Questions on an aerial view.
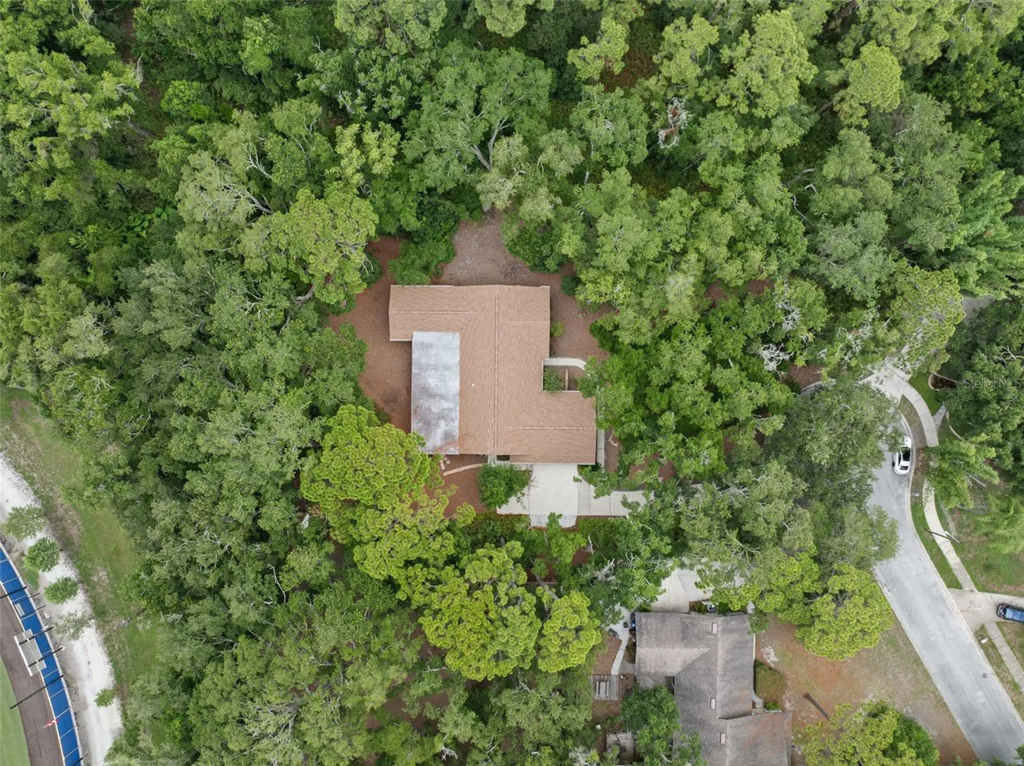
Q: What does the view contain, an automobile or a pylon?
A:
automobile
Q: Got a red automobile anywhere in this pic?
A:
No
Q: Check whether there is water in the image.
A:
No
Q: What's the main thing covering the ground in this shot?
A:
trees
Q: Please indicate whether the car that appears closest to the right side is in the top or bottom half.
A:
bottom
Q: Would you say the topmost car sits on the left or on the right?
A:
right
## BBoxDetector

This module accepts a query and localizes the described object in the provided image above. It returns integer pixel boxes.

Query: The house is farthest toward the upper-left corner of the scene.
[388,283,598,464]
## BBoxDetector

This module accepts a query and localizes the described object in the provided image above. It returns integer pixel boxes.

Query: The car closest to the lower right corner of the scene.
[999,603,1024,625]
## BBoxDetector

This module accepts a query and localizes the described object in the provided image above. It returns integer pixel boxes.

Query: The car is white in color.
[894,435,917,475]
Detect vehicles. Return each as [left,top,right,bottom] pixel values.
[999,603,1024,625]
[894,435,917,475]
